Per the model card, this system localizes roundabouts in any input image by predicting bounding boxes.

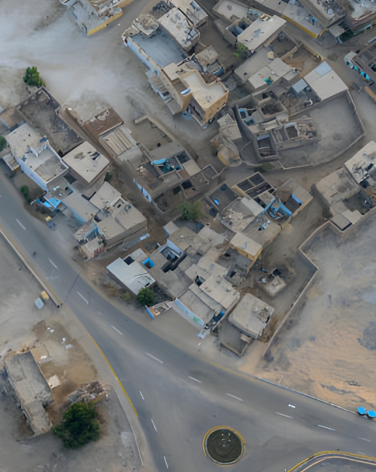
[204,426,244,464]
